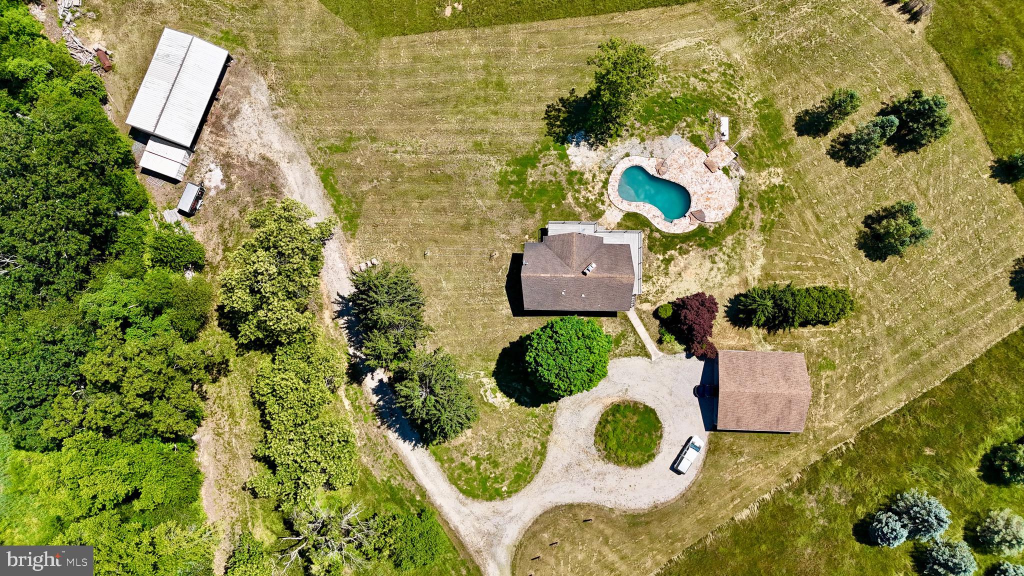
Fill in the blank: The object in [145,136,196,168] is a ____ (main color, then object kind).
white shipping container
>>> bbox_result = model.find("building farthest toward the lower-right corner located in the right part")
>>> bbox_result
[717,350,811,432]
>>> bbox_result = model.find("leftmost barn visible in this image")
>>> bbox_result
[125,28,236,150]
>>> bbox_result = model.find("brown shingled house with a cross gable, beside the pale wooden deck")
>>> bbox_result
[521,232,635,312]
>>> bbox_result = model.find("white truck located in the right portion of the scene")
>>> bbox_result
[673,435,702,476]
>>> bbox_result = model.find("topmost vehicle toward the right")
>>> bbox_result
[693,385,719,399]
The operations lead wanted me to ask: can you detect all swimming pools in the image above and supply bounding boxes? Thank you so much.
[618,166,691,221]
